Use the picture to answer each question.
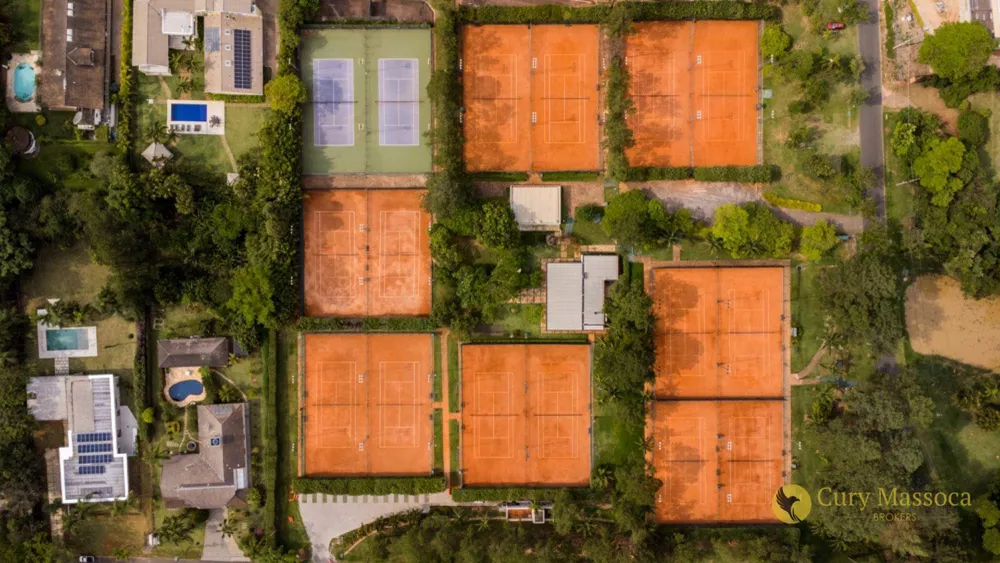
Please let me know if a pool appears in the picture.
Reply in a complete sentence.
Yes, the photo shows a pool.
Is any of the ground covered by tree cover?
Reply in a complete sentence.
Yes, some tree cover is visible.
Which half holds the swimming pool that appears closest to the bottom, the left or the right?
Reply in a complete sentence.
The swimming pool that appears closest to the bottom appears in the left half of the scene.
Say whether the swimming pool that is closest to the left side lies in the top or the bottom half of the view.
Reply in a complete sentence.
The swimming pool that is closest to the left side sits in the top half of the picture.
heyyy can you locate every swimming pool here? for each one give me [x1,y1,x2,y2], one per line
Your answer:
[37,318,98,358]
[167,100,225,135]
[7,50,41,112]
[163,367,206,407]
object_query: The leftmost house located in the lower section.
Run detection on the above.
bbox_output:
[27,374,140,503]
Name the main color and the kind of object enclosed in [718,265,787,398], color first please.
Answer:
orange tennis court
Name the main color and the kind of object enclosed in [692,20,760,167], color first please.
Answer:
orange tennis court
